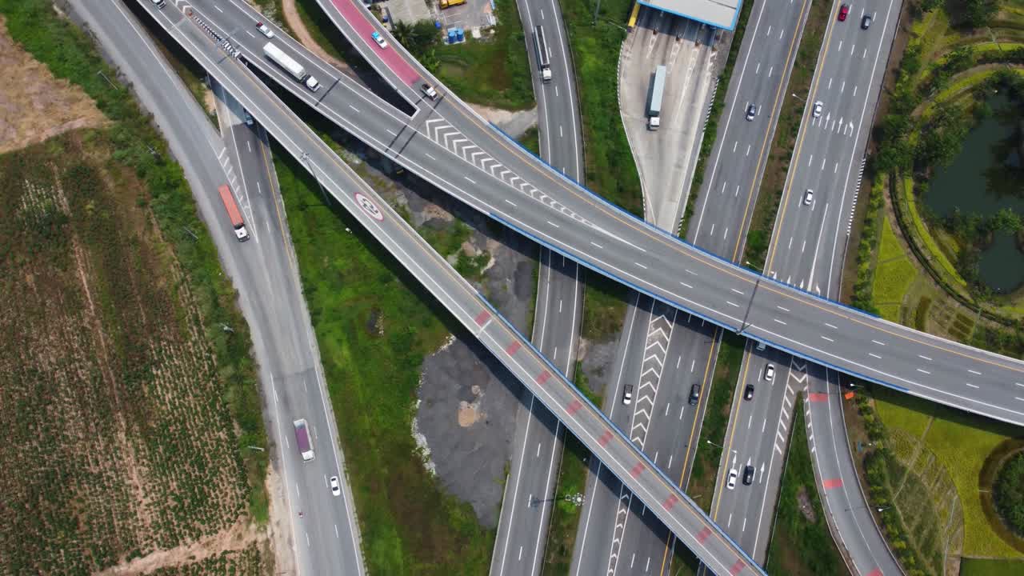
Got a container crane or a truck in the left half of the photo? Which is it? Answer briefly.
truck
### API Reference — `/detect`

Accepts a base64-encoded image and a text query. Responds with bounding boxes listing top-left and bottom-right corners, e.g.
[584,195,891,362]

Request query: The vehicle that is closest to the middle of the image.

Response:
[622,382,634,406]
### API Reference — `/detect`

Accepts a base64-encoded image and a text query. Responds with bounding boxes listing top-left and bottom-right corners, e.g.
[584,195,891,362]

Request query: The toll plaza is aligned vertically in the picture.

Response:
[619,0,742,234]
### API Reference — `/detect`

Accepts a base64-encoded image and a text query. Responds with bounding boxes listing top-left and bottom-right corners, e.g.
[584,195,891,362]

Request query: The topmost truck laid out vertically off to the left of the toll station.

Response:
[532,22,553,84]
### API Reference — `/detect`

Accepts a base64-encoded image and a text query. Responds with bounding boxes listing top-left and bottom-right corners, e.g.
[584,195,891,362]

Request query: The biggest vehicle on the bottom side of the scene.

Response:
[290,418,315,464]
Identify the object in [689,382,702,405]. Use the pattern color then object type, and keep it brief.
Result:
gray vehicle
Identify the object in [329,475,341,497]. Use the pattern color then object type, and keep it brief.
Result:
white vehicle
